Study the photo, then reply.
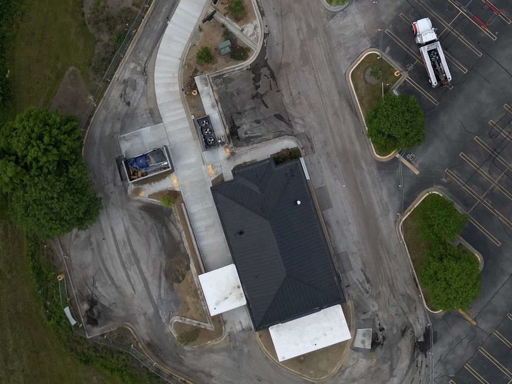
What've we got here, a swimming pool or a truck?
truck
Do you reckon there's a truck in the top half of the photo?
Yes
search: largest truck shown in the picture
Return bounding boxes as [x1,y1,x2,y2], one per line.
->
[414,21,454,96]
